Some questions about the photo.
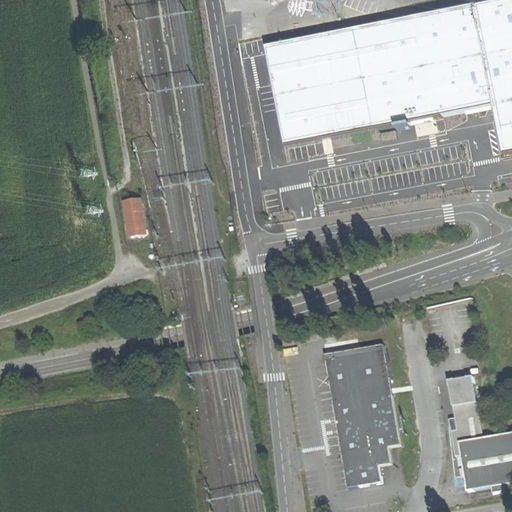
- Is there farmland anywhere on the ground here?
Yes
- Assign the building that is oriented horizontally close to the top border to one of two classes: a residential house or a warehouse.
warehouse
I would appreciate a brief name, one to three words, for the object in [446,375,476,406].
building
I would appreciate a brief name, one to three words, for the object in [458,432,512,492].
building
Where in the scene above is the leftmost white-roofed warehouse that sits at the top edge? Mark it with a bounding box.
[264,2,490,143]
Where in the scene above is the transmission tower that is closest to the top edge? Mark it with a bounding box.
[84,164,96,181]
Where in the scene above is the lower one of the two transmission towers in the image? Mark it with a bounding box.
[89,202,102,218]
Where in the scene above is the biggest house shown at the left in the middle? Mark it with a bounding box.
[122,197,148,238]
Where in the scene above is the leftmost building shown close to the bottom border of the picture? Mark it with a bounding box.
[324,344,402,492]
